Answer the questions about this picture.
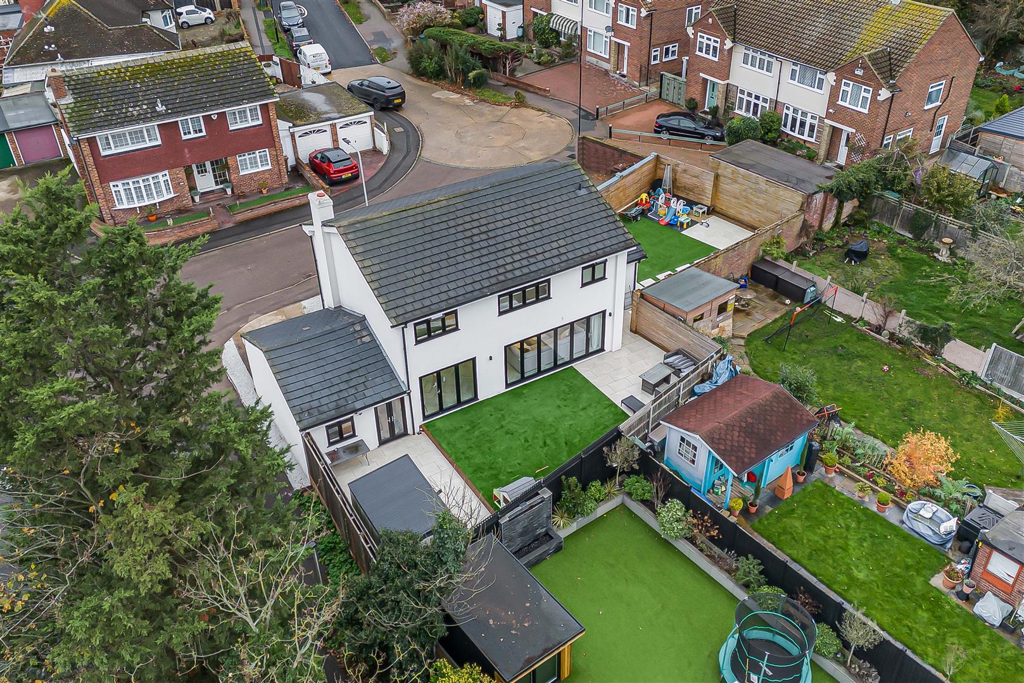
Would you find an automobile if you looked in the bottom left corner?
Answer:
No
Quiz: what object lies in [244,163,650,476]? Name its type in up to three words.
house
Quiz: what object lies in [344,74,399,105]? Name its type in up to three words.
car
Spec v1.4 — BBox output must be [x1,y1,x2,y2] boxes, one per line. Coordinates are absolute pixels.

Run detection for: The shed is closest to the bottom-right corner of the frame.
[967,479,1024,608]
